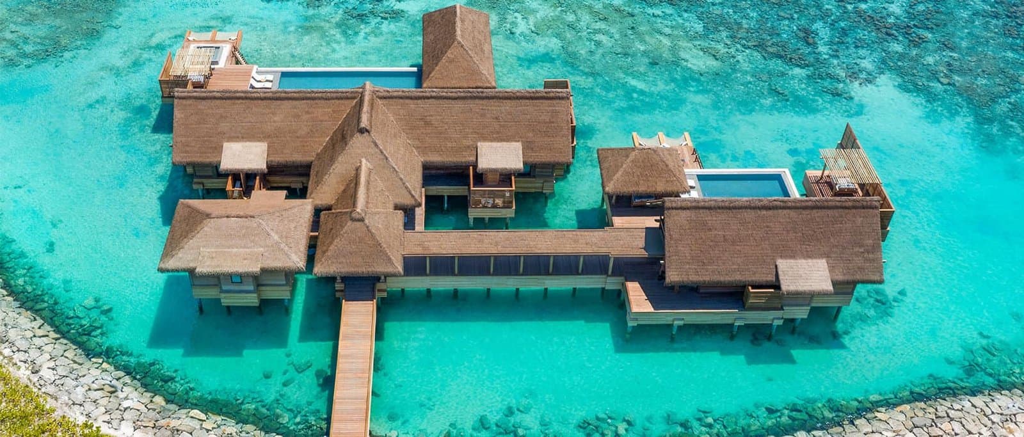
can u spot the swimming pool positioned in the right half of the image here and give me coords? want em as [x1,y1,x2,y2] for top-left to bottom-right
[685,168,800,196]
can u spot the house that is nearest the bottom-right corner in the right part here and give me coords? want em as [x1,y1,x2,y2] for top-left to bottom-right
[619,195,887,347]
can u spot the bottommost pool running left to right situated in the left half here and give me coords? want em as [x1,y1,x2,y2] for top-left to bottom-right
[247,66,422,89]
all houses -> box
[169,79,575,230]
[619,195,887,347]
